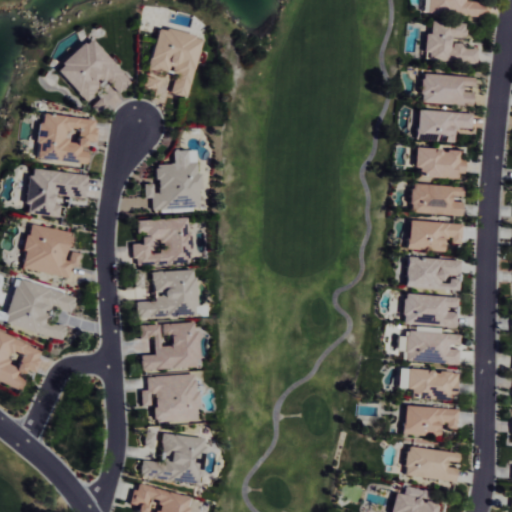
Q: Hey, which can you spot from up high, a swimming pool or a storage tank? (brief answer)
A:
swimming pool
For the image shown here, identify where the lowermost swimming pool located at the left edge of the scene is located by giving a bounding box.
[0,226,18,251]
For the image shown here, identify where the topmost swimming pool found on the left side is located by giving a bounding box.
[168,13,192,27]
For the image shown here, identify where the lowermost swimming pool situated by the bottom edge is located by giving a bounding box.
[366,493,388,506]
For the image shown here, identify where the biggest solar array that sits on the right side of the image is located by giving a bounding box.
[414,348,446,364]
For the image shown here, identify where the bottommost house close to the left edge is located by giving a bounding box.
[0,330,40,392]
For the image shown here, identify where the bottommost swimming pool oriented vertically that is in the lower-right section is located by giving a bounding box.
[384,445,396,473]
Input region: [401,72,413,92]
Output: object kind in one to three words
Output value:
swimming pool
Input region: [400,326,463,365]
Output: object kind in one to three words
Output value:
house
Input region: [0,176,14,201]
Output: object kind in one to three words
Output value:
swimming pool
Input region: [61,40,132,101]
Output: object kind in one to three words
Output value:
house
